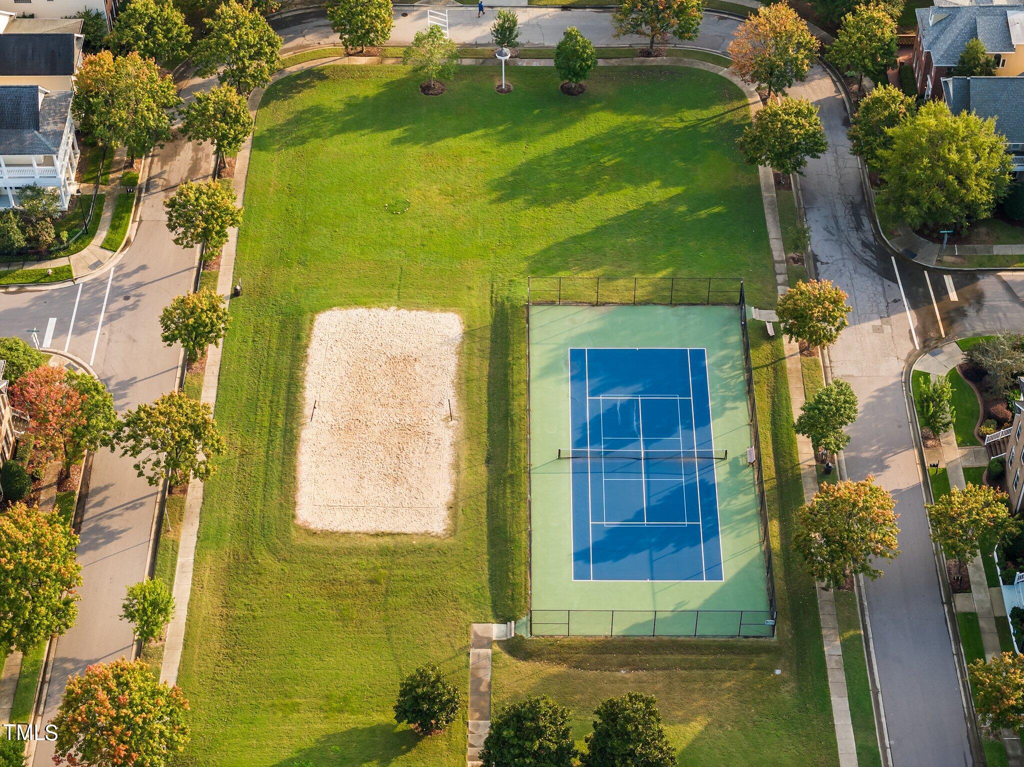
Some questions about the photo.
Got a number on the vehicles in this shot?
0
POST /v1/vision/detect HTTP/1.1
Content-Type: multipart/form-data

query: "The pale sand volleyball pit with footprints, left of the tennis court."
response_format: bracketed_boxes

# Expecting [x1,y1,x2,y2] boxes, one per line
[296,308,462,536]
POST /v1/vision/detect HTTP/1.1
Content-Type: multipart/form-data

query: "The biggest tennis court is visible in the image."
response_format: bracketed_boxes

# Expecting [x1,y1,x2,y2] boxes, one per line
[515,303,777,641]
